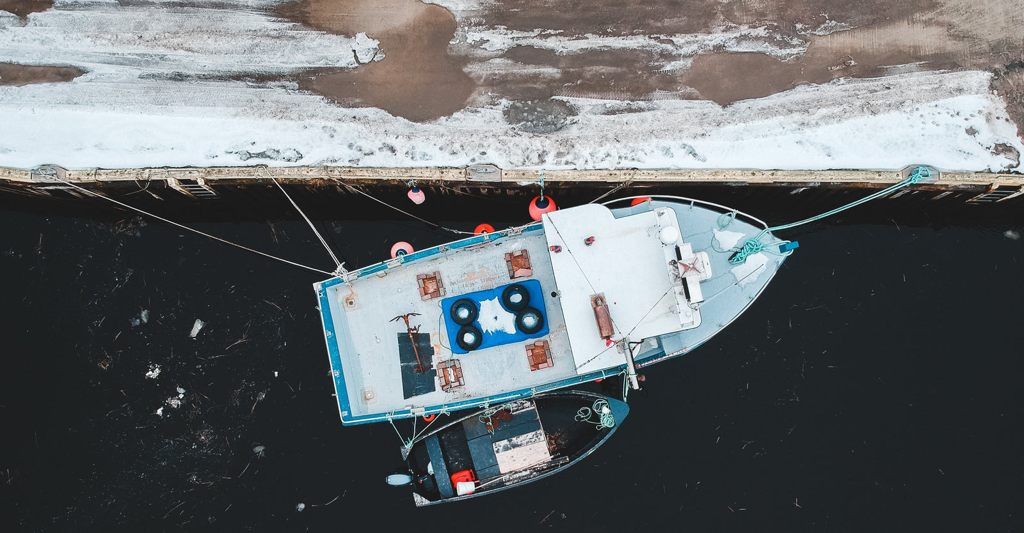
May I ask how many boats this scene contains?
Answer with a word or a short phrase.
2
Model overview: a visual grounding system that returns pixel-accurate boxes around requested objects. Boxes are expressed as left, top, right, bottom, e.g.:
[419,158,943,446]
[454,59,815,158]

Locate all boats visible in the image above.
[388,390,630,507]
[311,194,799,424]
